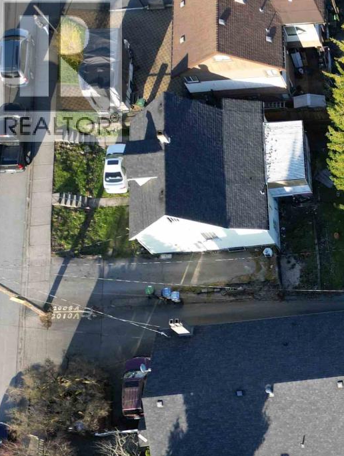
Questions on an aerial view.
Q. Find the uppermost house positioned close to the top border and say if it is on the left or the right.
right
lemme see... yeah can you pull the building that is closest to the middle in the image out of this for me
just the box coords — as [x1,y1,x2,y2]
[122,86,314,259]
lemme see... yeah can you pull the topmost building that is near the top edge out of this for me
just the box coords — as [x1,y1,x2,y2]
[167,0,333,106]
